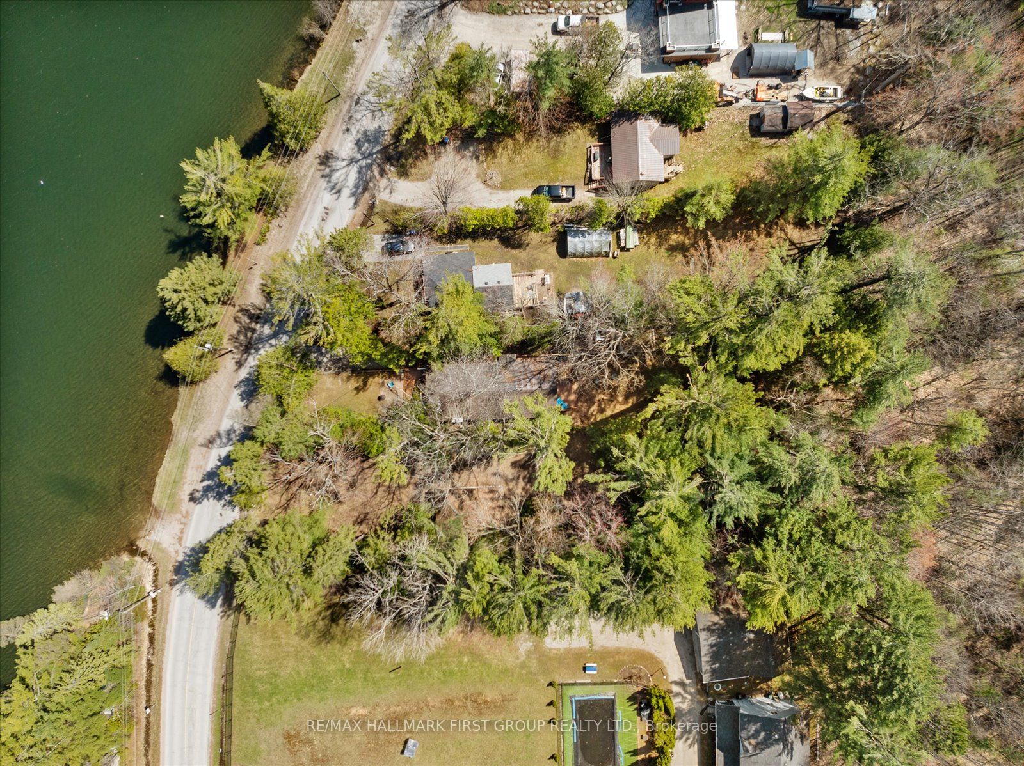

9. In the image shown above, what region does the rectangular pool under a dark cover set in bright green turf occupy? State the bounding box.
[562,684,654,766]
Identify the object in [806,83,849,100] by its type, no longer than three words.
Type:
boat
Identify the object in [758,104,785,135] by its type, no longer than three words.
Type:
shed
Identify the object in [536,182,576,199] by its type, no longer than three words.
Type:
vehicle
